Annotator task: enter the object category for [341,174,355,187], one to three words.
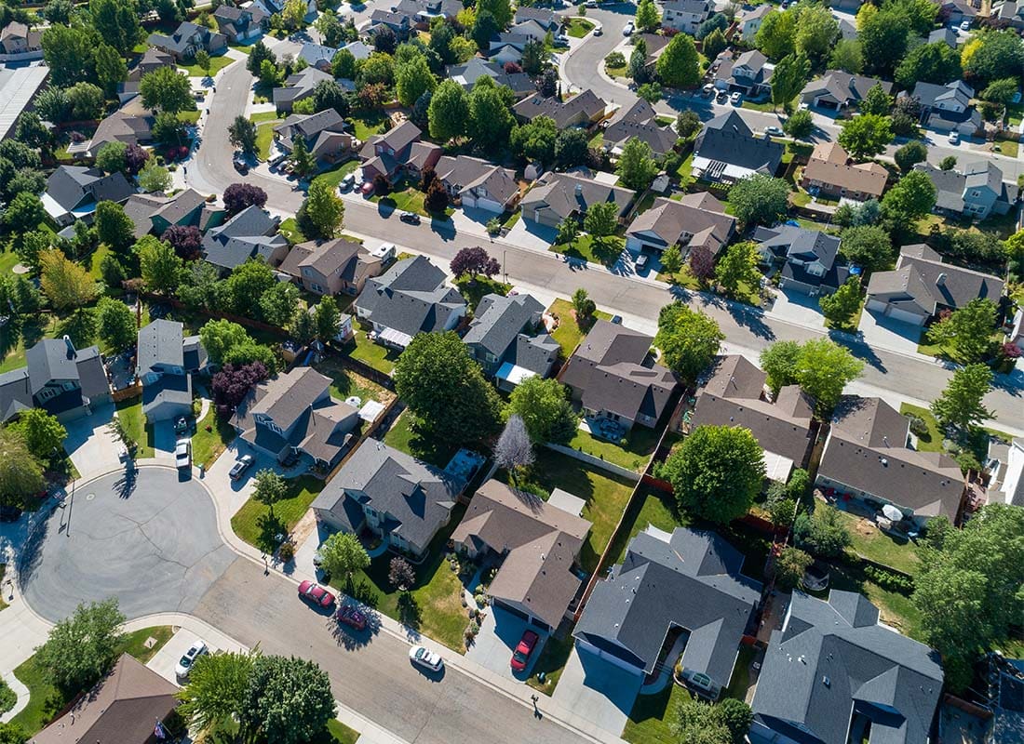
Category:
vehicle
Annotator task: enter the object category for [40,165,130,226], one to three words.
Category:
house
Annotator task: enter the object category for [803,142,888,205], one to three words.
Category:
house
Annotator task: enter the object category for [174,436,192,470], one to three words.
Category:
vehicle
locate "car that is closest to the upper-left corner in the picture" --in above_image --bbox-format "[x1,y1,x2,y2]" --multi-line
[193,89,205,101]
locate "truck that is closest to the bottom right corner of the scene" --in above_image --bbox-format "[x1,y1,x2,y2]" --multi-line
[508,627,543,676]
